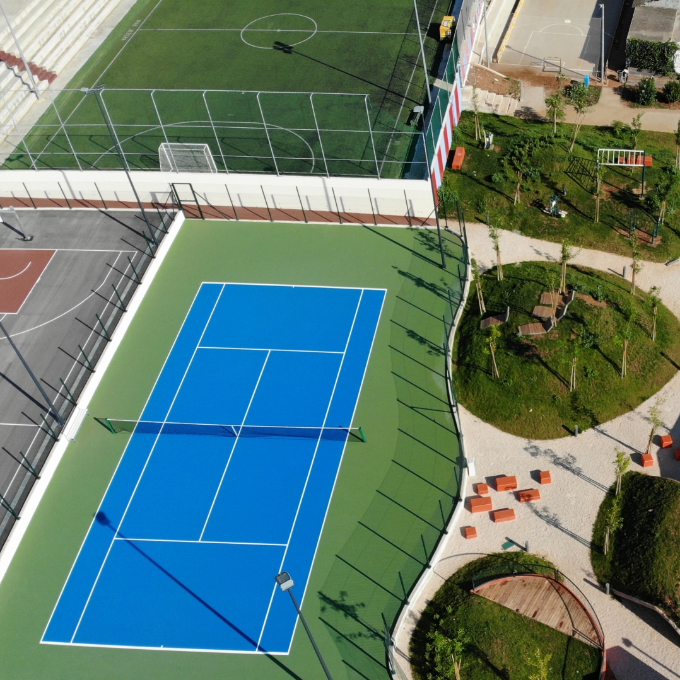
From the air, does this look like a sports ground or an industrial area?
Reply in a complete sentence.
What you see here is a sports ground.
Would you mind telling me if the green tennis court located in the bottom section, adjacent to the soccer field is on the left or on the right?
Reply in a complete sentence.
The green tennis court located in the bottom section, adjacent to the soccer field appears in the left half of the scene.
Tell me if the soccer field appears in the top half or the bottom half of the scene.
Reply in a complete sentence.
The soccer field sits in the top half of the picture.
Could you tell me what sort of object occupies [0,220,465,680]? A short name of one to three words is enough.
tennis court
